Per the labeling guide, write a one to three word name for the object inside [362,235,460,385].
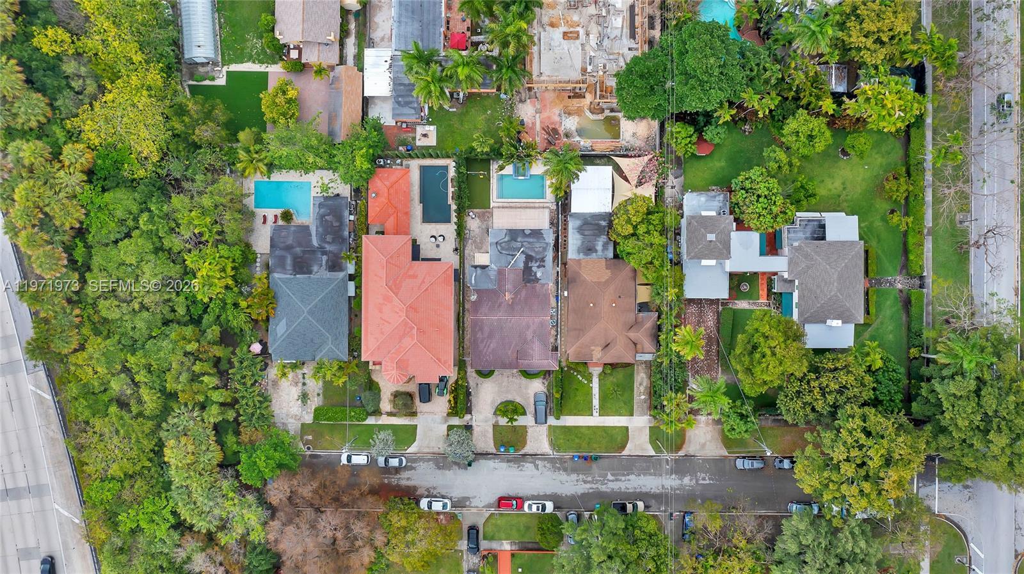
house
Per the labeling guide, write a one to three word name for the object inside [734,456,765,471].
car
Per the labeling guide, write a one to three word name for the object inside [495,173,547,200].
swimming pool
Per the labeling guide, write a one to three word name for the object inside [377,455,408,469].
car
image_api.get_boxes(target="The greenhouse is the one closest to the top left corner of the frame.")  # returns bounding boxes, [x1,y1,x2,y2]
[183,0,222,69]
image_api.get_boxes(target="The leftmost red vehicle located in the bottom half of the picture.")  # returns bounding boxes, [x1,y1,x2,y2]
[497,497,523,510]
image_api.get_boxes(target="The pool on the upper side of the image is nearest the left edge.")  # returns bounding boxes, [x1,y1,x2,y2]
[253,179,313,221]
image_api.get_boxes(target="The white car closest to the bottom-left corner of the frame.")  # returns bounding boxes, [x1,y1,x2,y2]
[341,452,371,465]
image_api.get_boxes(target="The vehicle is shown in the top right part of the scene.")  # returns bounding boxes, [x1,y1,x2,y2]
[995,93,1014,122]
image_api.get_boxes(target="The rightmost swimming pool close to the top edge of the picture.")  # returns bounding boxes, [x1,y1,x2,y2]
[697,0,744,41]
